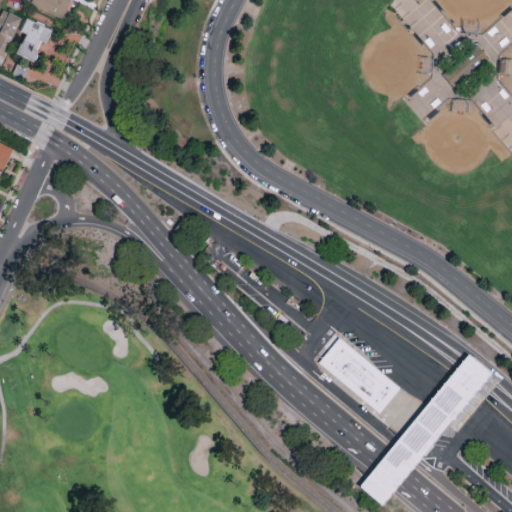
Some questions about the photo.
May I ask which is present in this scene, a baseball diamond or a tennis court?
baseball diamond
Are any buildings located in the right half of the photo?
Yes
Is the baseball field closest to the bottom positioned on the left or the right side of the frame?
right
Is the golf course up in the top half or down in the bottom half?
bottom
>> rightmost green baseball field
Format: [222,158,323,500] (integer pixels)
[345,99,512,305]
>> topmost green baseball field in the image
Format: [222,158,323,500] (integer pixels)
[255,0,434,190]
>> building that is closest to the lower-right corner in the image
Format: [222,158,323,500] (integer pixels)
[320,338,400,412]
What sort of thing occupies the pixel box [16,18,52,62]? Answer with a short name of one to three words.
house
